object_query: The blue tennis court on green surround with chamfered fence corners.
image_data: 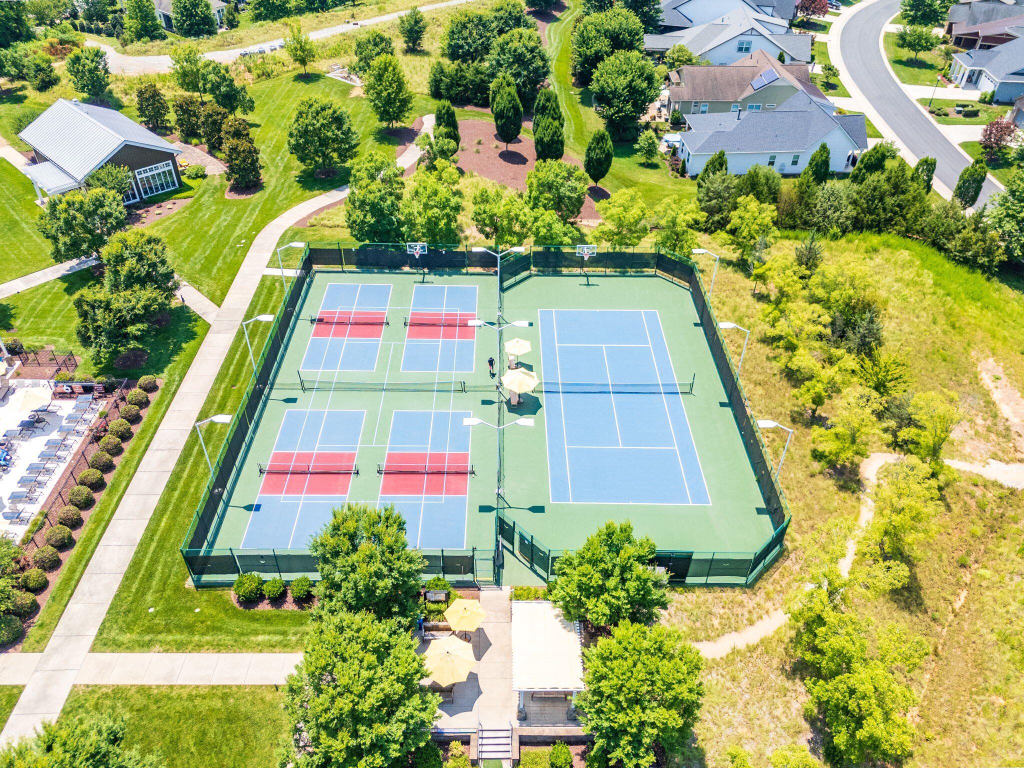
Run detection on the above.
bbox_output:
[498,270,786,588]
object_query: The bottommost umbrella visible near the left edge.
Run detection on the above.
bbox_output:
[0,377,50,418]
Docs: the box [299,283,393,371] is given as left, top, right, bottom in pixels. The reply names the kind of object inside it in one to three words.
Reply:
sports court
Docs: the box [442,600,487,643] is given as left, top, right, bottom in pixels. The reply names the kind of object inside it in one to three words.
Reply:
umbrella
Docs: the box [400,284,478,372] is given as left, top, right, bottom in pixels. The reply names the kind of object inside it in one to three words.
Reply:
sports court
